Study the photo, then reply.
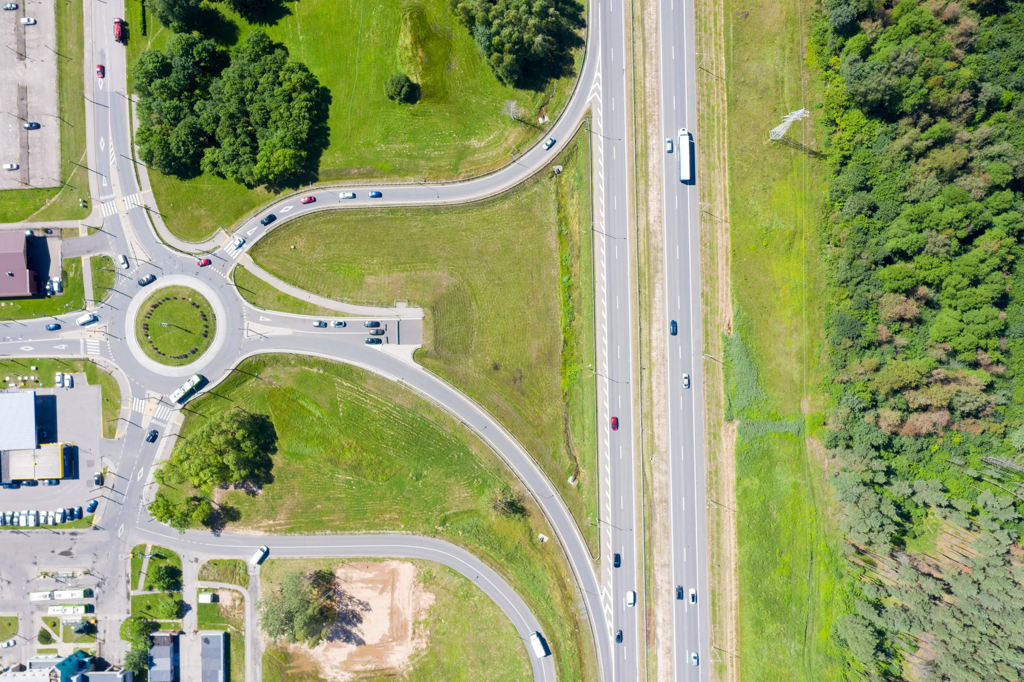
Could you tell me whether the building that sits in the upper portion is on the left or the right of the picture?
left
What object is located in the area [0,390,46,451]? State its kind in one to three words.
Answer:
building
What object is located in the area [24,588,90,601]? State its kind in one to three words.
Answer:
vehicle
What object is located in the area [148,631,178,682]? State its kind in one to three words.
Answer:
building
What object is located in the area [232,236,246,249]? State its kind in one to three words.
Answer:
vehicle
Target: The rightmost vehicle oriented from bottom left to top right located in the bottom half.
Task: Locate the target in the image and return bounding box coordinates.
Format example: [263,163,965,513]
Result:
[249,546,267,566]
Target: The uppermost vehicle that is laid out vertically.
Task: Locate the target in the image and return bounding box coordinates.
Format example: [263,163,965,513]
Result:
[110,16,122,44]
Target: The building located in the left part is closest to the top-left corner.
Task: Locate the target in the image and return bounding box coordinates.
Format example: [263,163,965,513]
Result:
[0,230,47,295]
